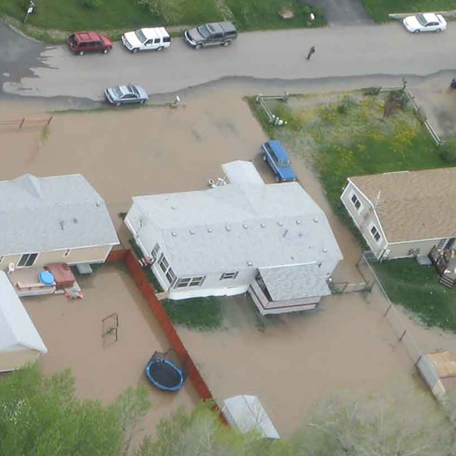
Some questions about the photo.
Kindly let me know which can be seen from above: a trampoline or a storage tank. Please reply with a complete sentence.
Of the two, only a trampoline appears.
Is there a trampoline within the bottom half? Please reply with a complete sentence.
Yes, looking within the bottom half, one can make out a trampoline.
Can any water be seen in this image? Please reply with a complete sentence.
Yes, there's water in this view.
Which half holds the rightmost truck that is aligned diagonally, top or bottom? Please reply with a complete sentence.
Seen from above, the rightmost truck that is aligned diagonally lies in the top half of the view.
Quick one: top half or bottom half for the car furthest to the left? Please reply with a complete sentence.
It is in the top half that the car furthest to the left appears.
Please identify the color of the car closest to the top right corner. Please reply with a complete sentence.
The car closest to the top right corner looks white in the image.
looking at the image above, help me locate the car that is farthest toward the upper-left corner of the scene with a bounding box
[66,29,115,55]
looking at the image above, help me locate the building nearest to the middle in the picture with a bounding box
[124,157,344,314]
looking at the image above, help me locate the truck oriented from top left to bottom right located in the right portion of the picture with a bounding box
[254,136,300,182]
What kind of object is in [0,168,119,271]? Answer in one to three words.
house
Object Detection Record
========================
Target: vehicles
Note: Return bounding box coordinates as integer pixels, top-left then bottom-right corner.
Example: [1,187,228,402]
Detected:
[254,136,300,182]
[182,20,240,47]
[120,24,172,51]
[66,29,115,55]
[401,12,447,33]
[100,83,150,107]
